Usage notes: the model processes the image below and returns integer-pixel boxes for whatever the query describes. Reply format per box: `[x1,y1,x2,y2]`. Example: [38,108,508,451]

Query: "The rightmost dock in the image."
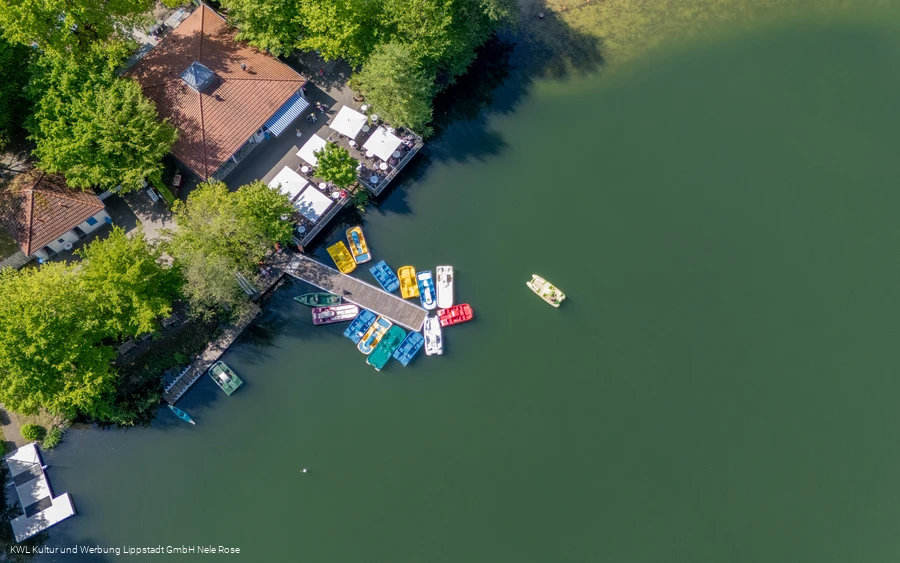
[287,253,428,331]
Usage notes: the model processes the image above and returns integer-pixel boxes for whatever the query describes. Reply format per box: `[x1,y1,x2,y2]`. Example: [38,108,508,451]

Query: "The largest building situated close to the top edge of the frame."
[111,8,315,185]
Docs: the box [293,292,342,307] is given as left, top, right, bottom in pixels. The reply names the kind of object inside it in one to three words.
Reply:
boat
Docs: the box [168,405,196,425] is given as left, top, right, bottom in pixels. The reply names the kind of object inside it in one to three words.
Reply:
boat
